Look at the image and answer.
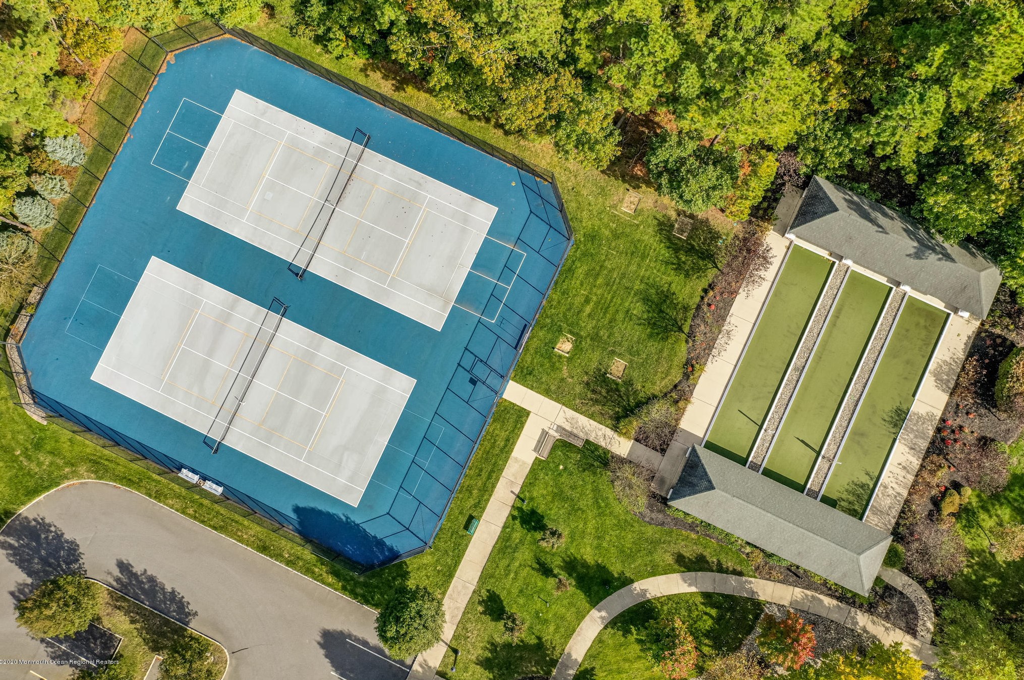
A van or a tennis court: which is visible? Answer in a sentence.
It is a tennis court that can be seen here.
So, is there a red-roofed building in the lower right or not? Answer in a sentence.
No, looking in the lower right, there is no red-roofed building.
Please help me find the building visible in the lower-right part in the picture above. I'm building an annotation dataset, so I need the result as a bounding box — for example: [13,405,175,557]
[666,444,892,597]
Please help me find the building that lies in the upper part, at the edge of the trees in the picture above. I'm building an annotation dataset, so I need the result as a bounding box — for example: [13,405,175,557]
[783,175,1005,320]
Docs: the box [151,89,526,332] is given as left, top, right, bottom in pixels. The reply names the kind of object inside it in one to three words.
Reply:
tennis court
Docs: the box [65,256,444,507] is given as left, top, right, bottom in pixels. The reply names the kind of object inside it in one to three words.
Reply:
tennis court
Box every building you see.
[666,444,892,597]
[783,175,1005,320]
